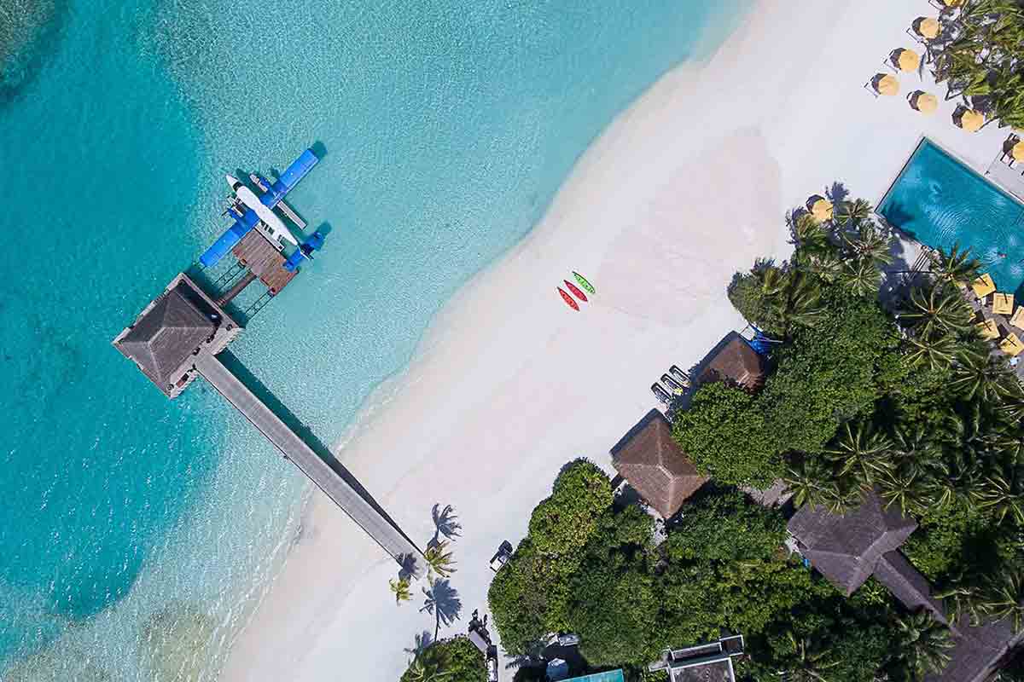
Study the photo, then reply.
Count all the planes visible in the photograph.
one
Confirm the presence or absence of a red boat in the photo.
Yes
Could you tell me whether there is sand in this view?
Yes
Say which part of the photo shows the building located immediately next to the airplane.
left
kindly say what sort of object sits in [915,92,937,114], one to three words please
umbrella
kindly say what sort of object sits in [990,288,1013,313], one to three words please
umbrella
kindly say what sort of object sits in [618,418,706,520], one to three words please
shed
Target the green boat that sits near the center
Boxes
[573,272,595,293]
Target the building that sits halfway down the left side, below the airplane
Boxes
[109,272,245,400]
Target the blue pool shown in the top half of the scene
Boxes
[870,133,1024,305]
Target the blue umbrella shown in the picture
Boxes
[546,657,570,682]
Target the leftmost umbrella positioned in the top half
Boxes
[812,200,832,221]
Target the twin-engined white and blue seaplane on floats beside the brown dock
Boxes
[200,150,326,276]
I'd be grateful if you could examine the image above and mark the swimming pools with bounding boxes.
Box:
[870,133,1024,305]
[557,668,625,682]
